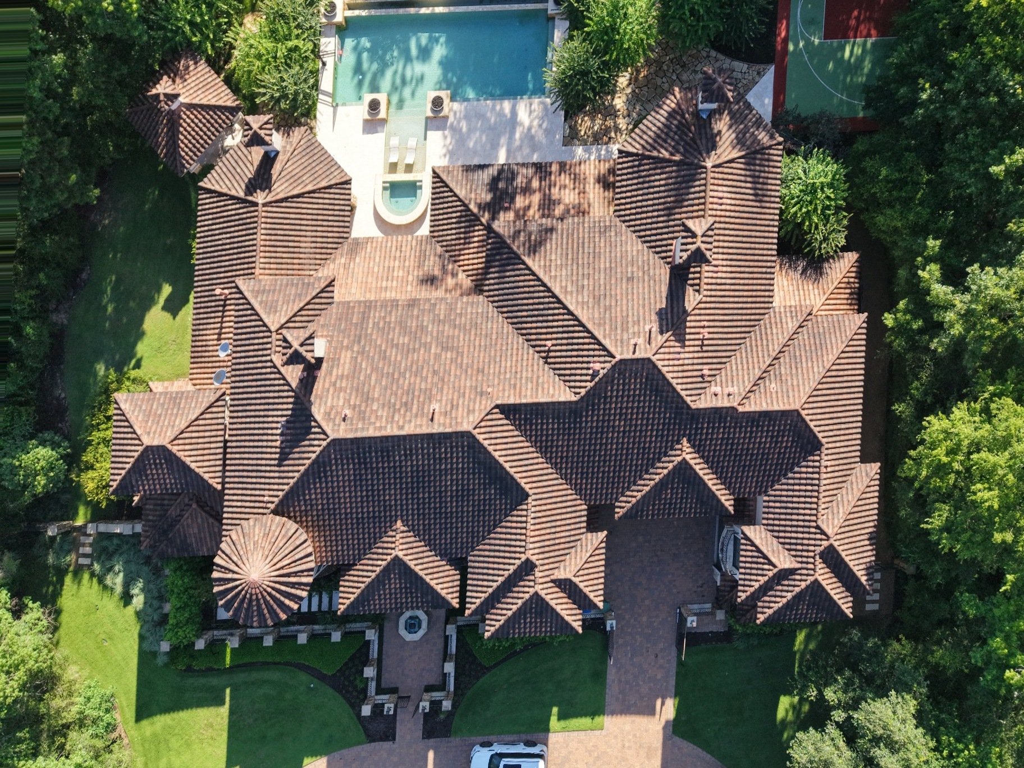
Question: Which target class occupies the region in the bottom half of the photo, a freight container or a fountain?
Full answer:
It is a fountain that can be seen in the bottom half of the photo.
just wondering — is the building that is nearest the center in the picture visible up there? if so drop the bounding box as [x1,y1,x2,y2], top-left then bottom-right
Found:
[106,64,883,640]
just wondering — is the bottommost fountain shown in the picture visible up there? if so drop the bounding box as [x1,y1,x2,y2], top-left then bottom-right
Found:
[398,610,428,641]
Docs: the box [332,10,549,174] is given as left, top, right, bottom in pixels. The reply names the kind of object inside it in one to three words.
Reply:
swimming pool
